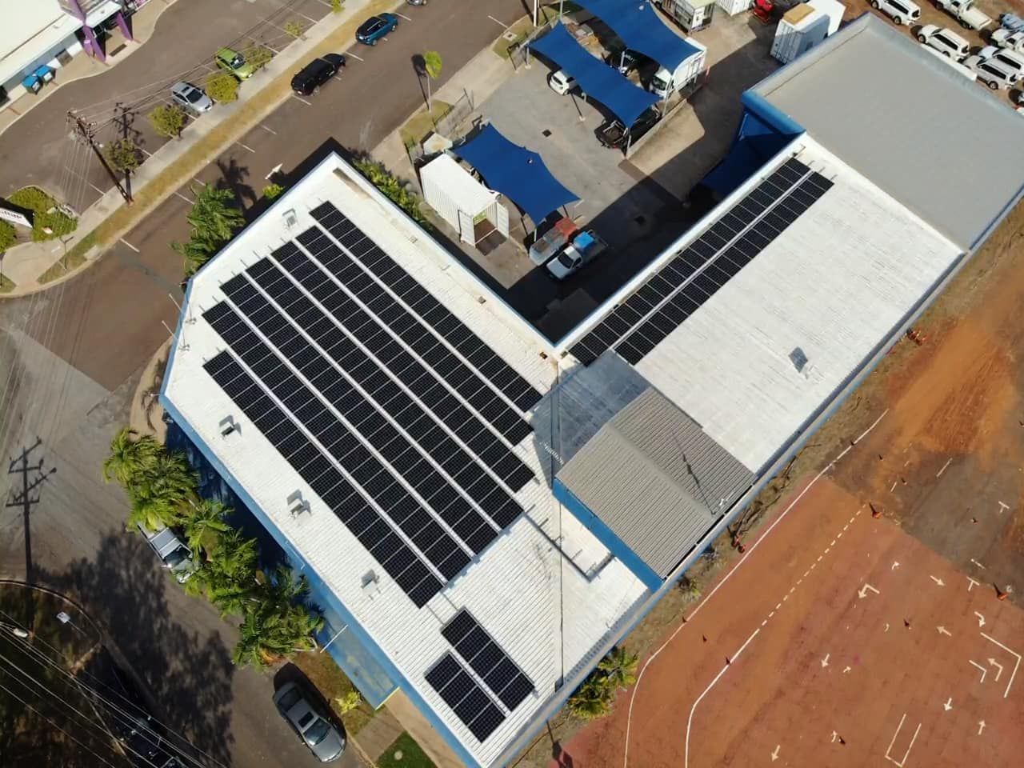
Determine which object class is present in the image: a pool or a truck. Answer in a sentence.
Of the two, only a truck appears.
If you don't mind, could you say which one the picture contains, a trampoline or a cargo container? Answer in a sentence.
The one in the frame is a cargo container.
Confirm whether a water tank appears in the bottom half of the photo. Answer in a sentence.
No, the scene shows no water tank in the bottom half of the photo.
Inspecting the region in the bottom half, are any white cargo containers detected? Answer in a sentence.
No, there is no white cargo container in the bottom half.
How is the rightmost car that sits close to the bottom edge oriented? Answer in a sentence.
The rightmost car that sits close to the bottom edge has been laid out on a diagonal relative to the frame.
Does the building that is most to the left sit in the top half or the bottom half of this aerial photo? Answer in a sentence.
It is in the top half that the building that is most to the left appears.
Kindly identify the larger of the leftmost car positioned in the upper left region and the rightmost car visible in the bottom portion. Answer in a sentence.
The rightmost car visible in the bottom portion is bigger than the leftmost car positioned in the upper left region.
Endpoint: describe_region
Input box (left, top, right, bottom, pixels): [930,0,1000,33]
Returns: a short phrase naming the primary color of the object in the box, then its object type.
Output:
white truck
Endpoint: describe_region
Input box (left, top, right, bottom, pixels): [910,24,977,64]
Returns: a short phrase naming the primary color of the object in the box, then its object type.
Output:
white car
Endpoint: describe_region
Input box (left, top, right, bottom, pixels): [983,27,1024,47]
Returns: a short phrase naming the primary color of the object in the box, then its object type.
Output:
white vehicle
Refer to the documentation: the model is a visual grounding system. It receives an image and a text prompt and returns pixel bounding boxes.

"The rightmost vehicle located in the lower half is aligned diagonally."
[273,679,344,760]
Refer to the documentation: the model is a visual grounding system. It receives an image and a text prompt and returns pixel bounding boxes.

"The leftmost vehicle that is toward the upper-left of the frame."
[166,77,216,117]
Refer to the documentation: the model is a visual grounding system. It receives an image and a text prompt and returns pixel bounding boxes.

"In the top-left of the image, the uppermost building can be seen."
[0,0,140,104]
